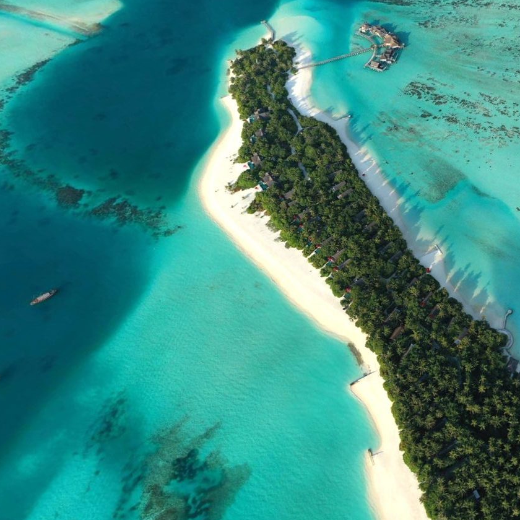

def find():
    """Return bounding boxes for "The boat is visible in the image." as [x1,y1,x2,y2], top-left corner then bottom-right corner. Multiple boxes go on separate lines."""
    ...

[29,289,56,304]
